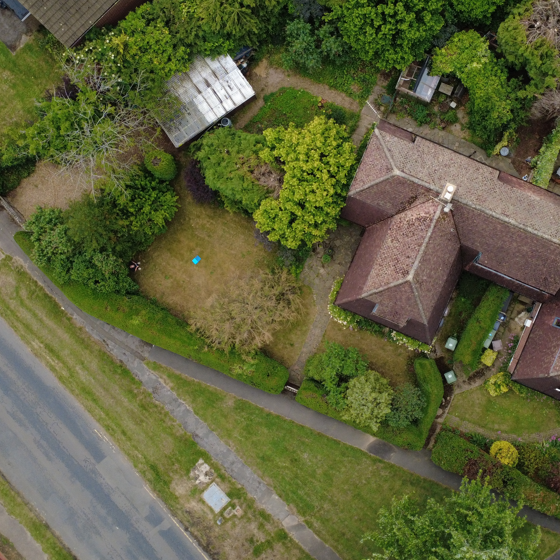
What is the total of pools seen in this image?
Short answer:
zero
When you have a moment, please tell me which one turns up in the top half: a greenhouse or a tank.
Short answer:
greenhouse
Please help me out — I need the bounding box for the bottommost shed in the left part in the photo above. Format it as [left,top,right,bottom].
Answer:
[150,54,257,152]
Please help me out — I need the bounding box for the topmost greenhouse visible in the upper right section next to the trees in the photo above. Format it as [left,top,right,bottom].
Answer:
[393,58,441,107]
